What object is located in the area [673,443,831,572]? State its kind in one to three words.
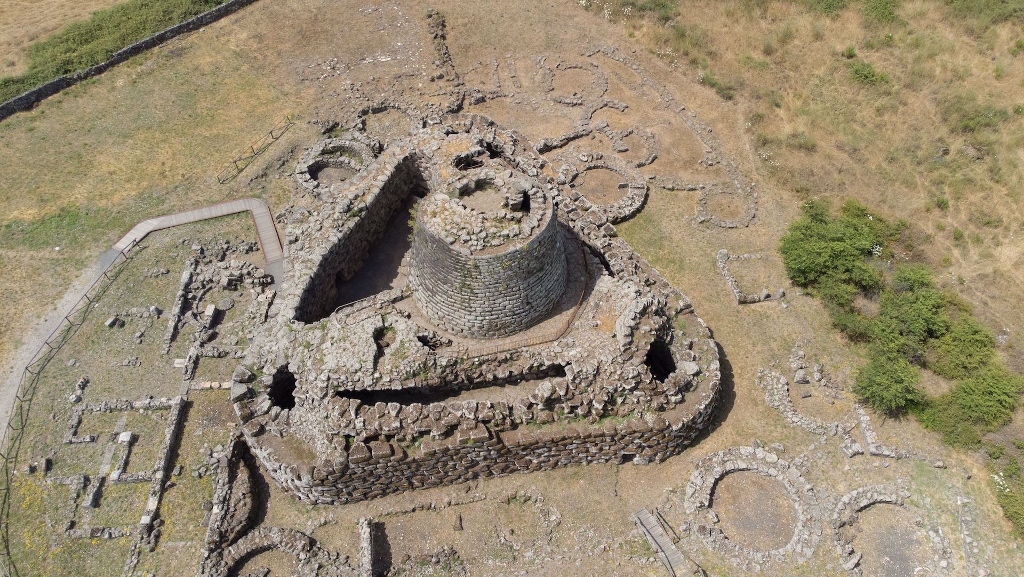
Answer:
shed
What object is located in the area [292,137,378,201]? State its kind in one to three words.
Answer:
shed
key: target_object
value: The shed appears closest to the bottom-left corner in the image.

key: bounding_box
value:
[215,523,325,577]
